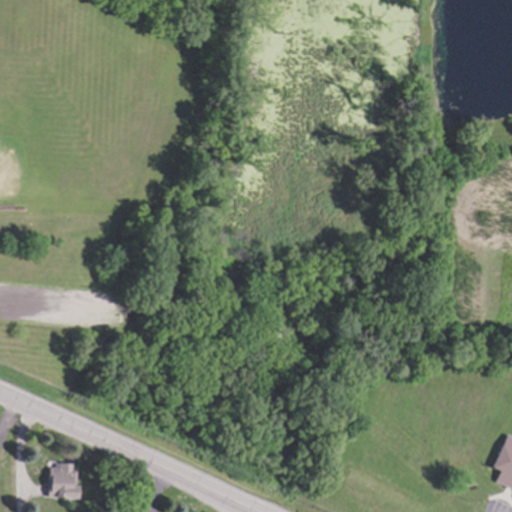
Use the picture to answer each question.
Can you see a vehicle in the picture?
No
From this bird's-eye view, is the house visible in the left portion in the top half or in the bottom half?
bottom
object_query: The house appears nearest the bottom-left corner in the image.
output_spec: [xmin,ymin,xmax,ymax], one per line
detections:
[47,462,82,501]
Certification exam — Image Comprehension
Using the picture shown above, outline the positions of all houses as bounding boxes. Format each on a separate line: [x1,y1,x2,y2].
[494,435,512,492]
[47,462,82,501]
